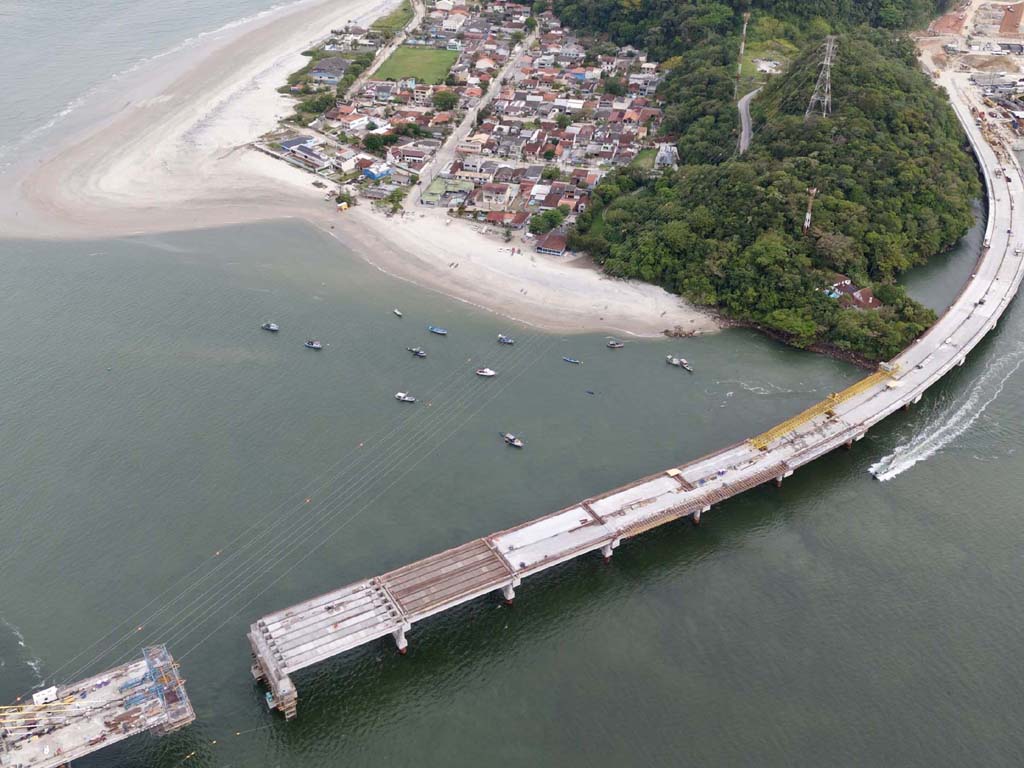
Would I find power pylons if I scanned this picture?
Yes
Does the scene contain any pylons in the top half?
Yes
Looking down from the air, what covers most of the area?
water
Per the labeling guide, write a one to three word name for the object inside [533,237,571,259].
building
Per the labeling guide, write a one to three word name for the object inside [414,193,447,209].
house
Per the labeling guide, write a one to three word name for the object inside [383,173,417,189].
house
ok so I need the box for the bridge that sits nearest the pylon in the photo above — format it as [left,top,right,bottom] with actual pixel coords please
[250,93,1024,688]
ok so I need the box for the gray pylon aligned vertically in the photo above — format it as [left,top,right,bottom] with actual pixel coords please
[802,30,840,117]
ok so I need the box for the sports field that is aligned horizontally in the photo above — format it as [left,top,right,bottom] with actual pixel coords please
[373,46,461,83]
